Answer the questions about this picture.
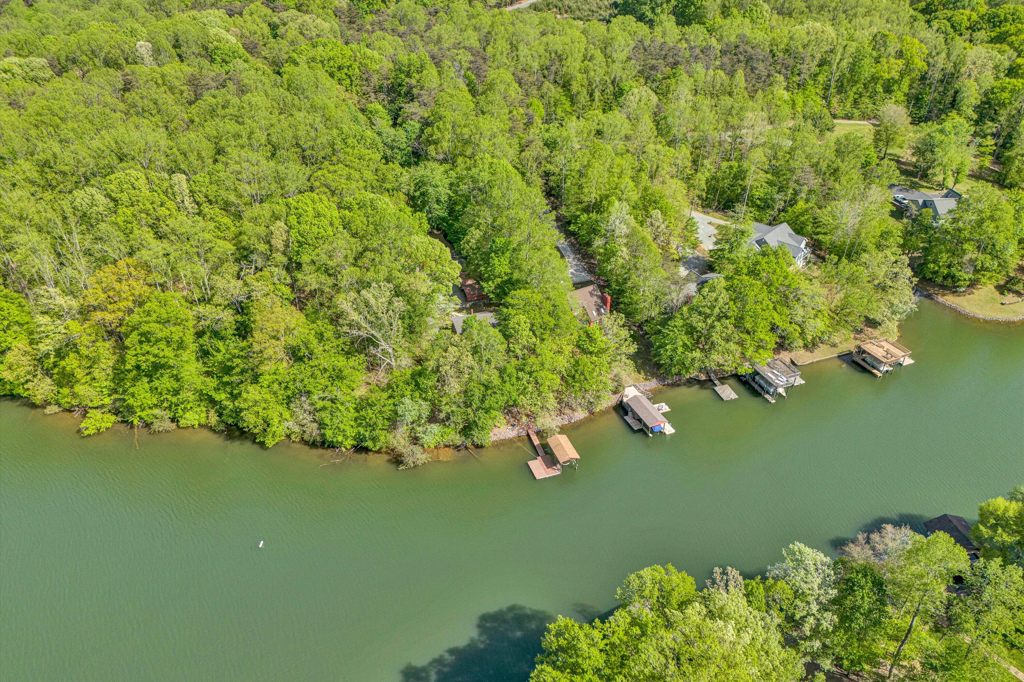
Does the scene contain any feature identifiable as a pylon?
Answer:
No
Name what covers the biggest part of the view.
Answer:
trees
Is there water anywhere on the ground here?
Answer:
Yes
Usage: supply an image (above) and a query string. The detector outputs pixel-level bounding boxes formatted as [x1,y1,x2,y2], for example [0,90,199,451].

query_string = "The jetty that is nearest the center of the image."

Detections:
[525,419,580,481]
